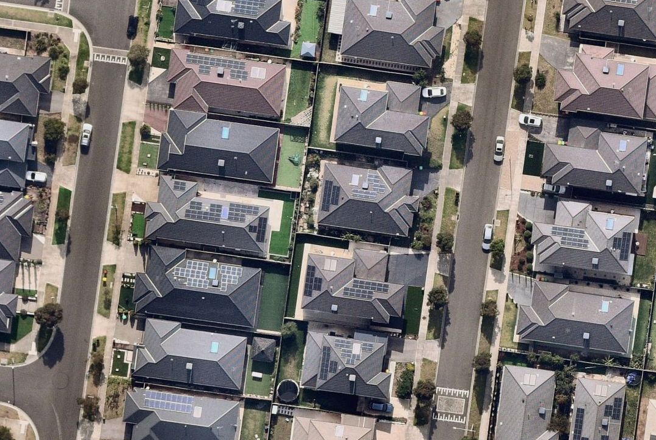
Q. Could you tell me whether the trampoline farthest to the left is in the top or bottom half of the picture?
bottom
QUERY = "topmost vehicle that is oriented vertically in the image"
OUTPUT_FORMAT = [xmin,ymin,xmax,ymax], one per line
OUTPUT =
[127,15,140,40]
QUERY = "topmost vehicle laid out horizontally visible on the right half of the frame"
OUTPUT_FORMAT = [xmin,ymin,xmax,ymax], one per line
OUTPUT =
[421,86,446,99]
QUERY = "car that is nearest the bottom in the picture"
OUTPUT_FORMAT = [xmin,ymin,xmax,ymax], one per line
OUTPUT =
[369,400,394,414]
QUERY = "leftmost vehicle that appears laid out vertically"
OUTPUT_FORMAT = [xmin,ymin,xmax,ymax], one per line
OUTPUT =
[80,121,93,149]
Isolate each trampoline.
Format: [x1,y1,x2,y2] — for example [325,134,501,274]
[626,372,639,385]
[277,379,299,401]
